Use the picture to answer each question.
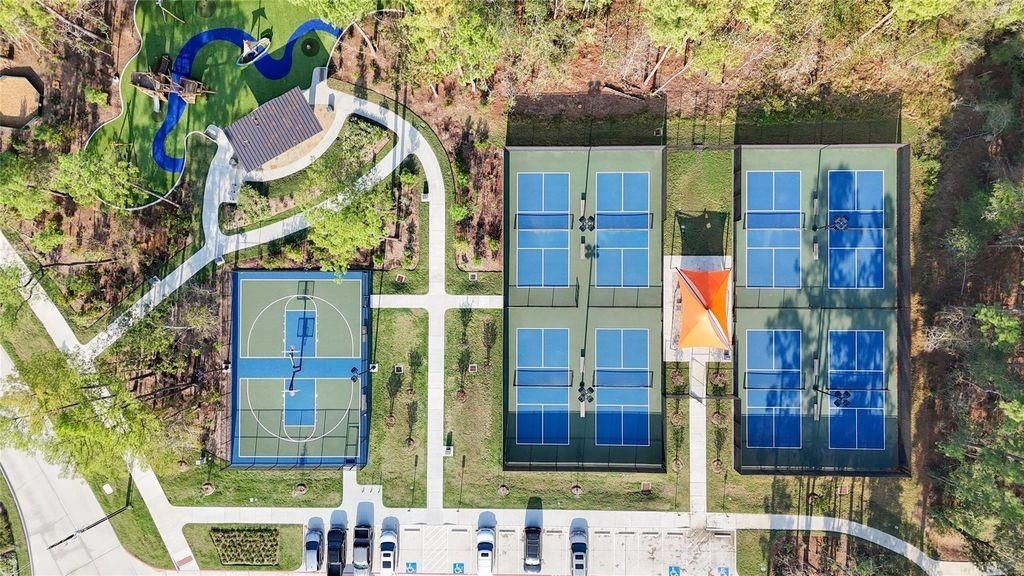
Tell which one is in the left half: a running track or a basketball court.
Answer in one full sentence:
The one visible in the left half is a basketball court.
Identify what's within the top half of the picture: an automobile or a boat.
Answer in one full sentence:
What appears within the top half of the picture is a boat.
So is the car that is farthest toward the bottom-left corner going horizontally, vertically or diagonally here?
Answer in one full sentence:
From this overhead view, the car that is farthest toward the bottom-left corner appears to run vertically.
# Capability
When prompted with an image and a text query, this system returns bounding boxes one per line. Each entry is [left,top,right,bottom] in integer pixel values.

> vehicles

[377,531,397,576]
[522,529,542,574]
[302,531,322,573]
[325,530,346,576]
[349,530,371,576]
[475,531,495,576]
[569,533,589,576]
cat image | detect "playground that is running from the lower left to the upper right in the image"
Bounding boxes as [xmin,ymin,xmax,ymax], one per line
[83,0,412,211]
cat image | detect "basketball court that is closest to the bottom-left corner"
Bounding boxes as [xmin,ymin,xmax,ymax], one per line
[232,271,370,467]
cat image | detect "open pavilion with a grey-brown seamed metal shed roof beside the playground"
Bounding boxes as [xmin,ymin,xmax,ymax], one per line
[224,87,335,173]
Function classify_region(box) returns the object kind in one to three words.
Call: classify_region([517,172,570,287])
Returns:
sports court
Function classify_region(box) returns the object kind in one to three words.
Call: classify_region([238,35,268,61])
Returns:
boat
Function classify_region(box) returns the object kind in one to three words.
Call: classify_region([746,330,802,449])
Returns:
sports court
